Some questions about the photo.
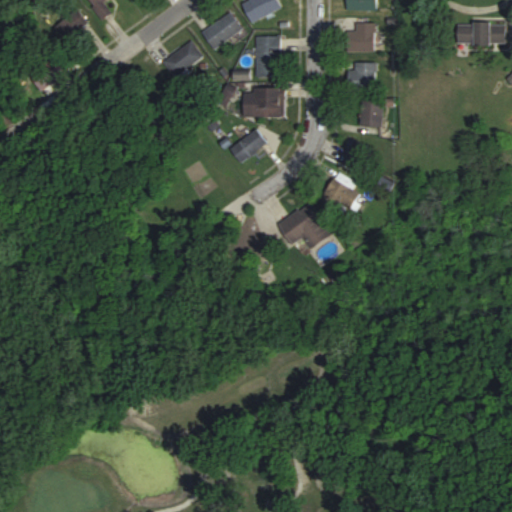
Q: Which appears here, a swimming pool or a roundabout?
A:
swimming pool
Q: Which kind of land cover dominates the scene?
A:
trees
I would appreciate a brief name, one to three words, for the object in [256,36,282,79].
house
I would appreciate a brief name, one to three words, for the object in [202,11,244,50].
house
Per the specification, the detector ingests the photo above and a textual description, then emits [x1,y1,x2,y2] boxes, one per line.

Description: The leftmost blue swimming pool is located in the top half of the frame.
[240,54,254,68]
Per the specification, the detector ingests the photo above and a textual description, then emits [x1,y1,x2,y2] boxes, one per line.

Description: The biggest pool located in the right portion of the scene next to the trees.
[310,234,346,267]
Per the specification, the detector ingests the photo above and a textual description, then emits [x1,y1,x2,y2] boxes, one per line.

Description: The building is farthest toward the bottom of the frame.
[276,206,332,254]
